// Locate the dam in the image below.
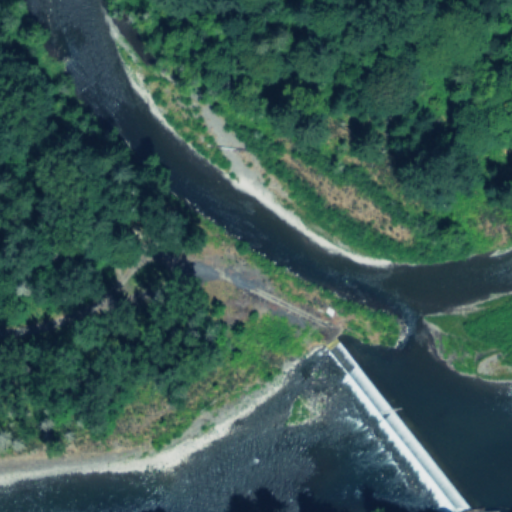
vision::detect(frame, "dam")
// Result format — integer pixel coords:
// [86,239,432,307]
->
[326,338,501,512]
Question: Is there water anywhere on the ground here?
Yes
